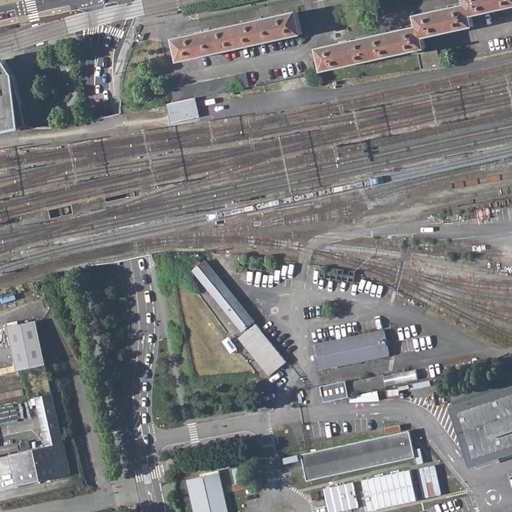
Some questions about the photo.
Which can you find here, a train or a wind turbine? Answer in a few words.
train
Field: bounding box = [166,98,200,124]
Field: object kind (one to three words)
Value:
shed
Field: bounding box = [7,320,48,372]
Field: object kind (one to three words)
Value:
building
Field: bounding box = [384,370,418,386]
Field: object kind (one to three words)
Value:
building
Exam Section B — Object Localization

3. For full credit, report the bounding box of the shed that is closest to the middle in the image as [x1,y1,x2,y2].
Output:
[192,260,255,332]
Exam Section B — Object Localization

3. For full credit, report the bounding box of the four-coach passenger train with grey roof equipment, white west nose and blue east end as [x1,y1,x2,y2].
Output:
[208,179,385,218]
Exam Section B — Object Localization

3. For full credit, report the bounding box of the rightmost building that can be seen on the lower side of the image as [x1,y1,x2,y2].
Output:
[448,388,512,468]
